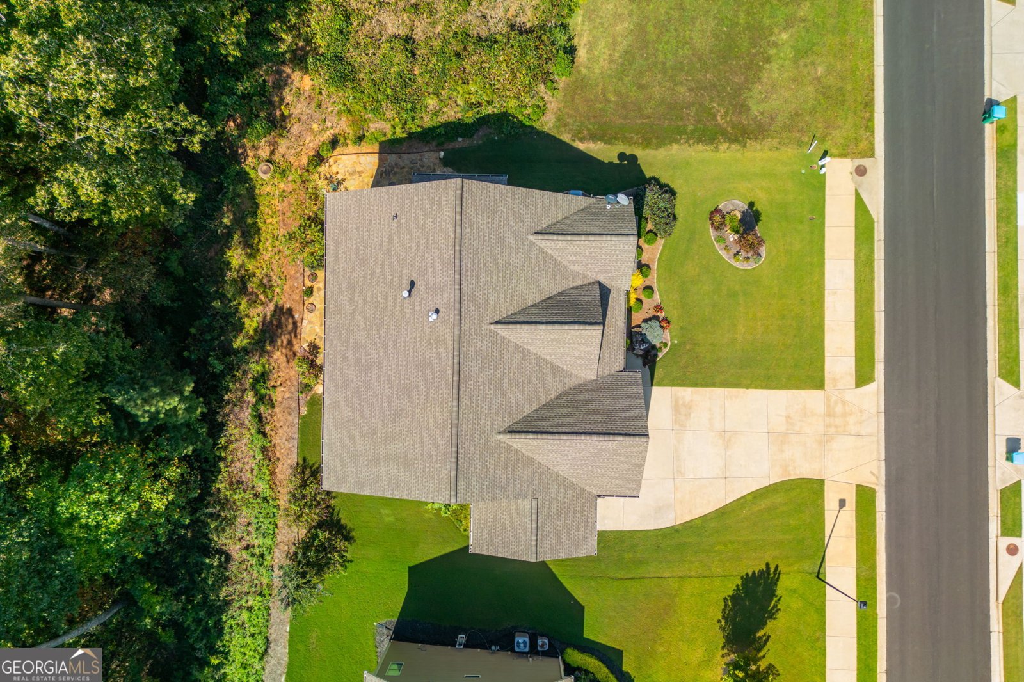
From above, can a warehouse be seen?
No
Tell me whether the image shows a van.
No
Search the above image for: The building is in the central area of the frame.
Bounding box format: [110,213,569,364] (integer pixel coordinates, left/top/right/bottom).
[318,167,649,562]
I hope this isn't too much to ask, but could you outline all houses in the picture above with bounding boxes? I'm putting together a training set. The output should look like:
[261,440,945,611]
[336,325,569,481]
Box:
[363,640,570,682]
[318,167,649,562]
